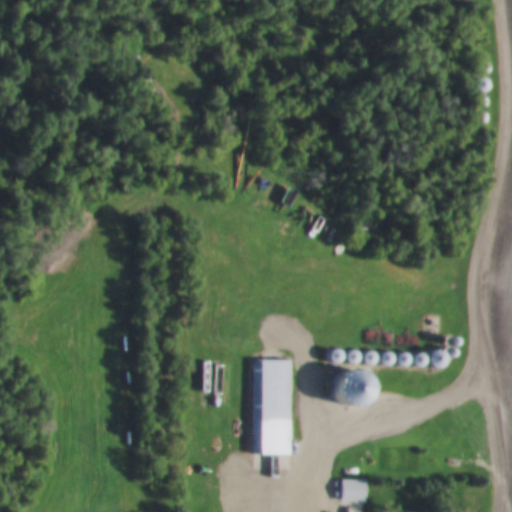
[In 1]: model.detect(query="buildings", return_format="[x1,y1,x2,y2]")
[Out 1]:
[256,358,293,456]
[338,478,370,505]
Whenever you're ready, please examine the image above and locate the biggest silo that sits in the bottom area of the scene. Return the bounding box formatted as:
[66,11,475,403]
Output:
[330,366,380,407]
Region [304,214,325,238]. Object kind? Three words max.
vehicle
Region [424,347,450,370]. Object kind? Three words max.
silo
